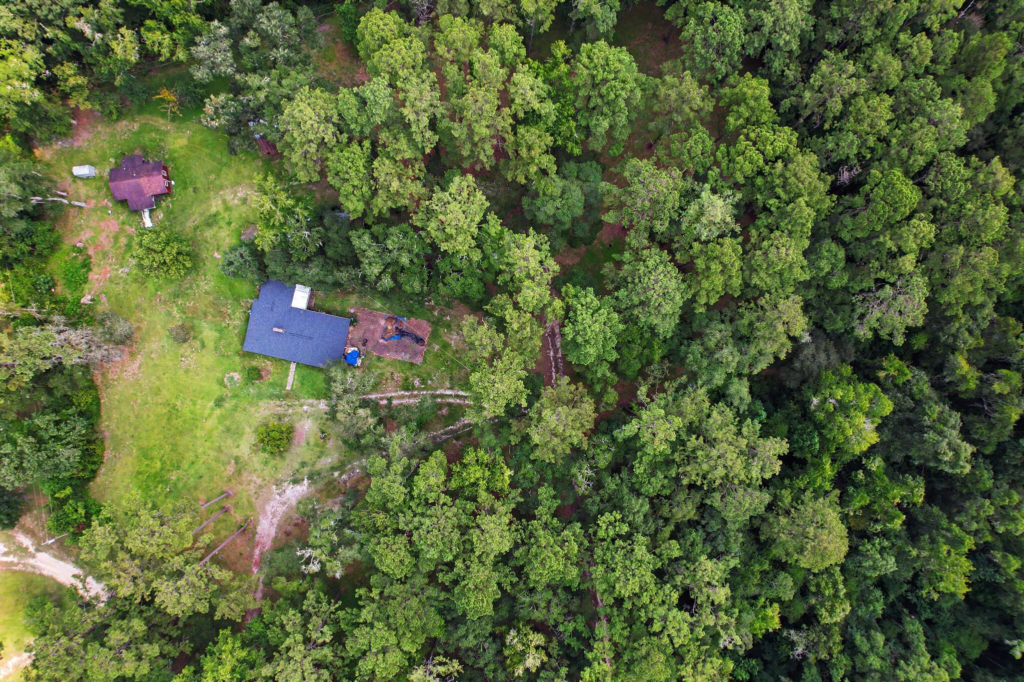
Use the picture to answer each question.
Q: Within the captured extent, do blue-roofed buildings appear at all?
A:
Yes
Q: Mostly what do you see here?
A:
trees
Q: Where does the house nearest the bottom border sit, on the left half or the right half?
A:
left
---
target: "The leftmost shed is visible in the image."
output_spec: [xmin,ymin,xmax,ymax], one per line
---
[72,166,97,180]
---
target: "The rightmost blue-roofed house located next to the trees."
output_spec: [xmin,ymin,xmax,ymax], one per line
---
[243,278,351,372]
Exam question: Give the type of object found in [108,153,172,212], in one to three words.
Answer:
house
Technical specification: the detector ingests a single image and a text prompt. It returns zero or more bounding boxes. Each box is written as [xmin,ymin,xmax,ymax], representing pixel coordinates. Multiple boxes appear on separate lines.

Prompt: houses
[243,278,351,372]
[108,153,172,212]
